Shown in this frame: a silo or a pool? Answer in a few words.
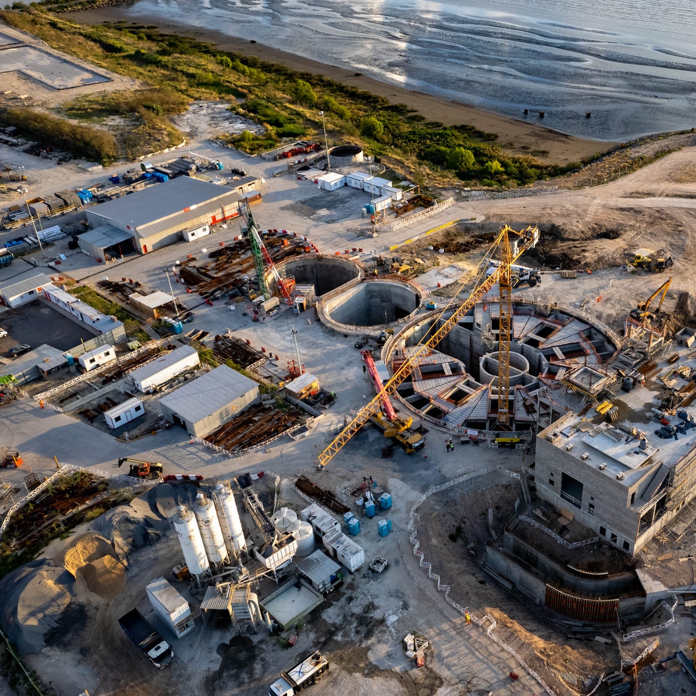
silo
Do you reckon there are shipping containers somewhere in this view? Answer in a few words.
Yes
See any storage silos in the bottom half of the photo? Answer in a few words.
Yes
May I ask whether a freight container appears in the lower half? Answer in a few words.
Yes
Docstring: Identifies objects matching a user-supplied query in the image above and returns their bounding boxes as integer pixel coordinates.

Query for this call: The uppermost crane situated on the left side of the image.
[241,194,293,317]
